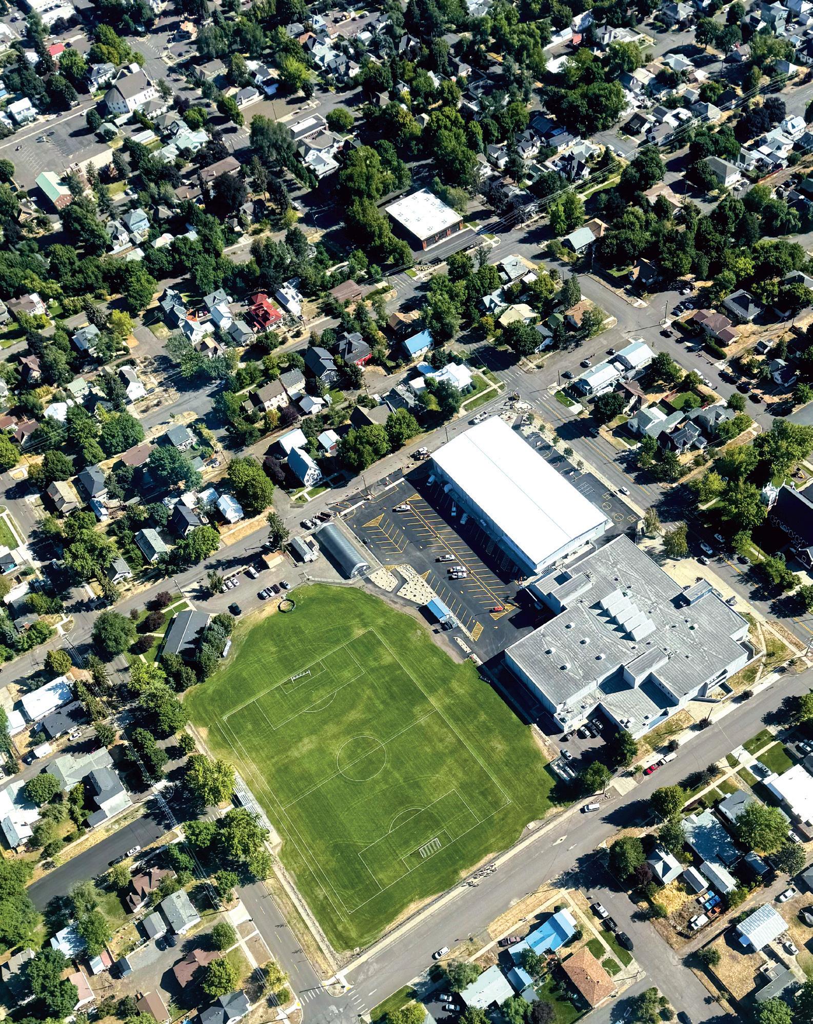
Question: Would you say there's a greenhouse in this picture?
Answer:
Yes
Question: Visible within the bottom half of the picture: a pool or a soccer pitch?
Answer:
soccer pitch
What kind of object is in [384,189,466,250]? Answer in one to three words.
building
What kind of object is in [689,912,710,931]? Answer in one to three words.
vehicle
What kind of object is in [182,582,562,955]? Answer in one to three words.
soccer field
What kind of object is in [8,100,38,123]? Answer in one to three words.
house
